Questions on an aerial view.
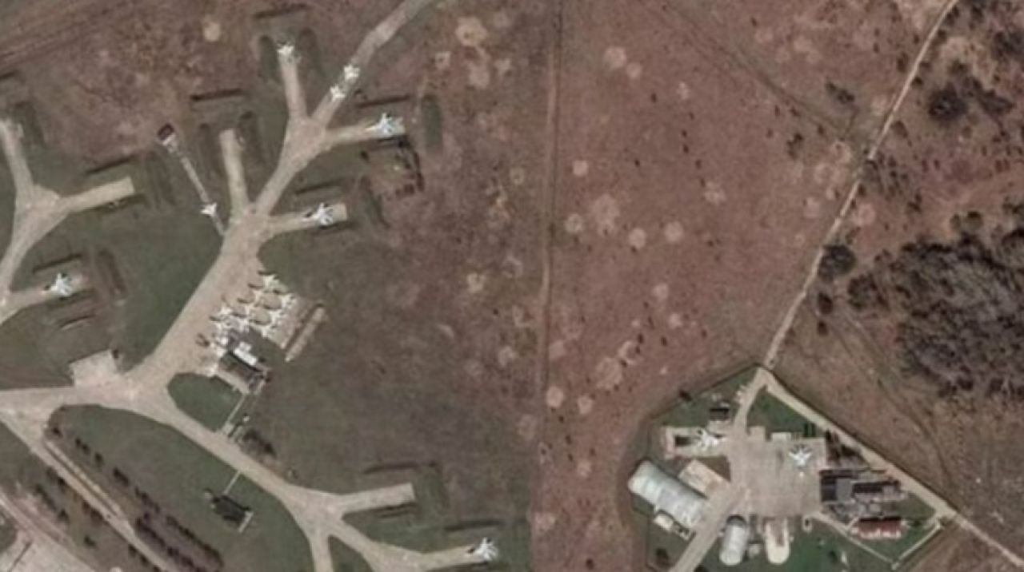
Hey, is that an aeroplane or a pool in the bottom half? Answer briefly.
aeroplane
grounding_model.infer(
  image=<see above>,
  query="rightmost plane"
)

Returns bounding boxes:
[789,441,811,474]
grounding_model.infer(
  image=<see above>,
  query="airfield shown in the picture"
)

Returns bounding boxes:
[0,0,492,572]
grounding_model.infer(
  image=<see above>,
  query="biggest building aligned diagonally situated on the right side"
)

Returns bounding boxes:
[628,460,709,526]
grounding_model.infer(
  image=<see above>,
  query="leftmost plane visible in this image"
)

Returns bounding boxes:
[42,274,75,295]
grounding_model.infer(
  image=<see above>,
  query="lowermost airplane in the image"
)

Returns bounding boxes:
[467,539,499,560]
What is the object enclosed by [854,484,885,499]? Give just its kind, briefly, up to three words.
building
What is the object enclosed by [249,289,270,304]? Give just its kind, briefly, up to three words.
airplane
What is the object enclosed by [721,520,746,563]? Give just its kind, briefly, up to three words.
hangar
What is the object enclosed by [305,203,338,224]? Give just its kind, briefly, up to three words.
airplane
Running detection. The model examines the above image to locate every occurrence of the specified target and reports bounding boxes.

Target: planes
[260,274,281,291]
[42,274,75,295]
[227,317,248,333]
[215,304,237,320]
[344,61,361,84]
[366,113,398,135]
[249,289,270,304]
[278,293,299,309]
[277,39,293,64]
[203,343,224,359]
[789,441,811,474]
[200,198,216,222]
[692,428,723,449]
[305,203,338,224]
[254,324,277,340]
[467,539,499,560]
[216,332,238,348]
[330,81,347,102]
